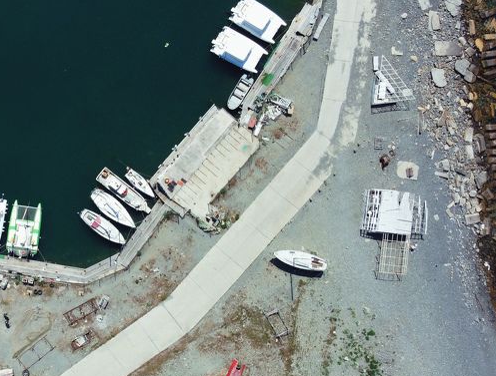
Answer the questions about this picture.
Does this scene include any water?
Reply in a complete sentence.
Yes, some water is visible.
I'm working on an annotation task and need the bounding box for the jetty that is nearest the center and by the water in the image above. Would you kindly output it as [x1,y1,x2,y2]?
[147,103,260,219]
